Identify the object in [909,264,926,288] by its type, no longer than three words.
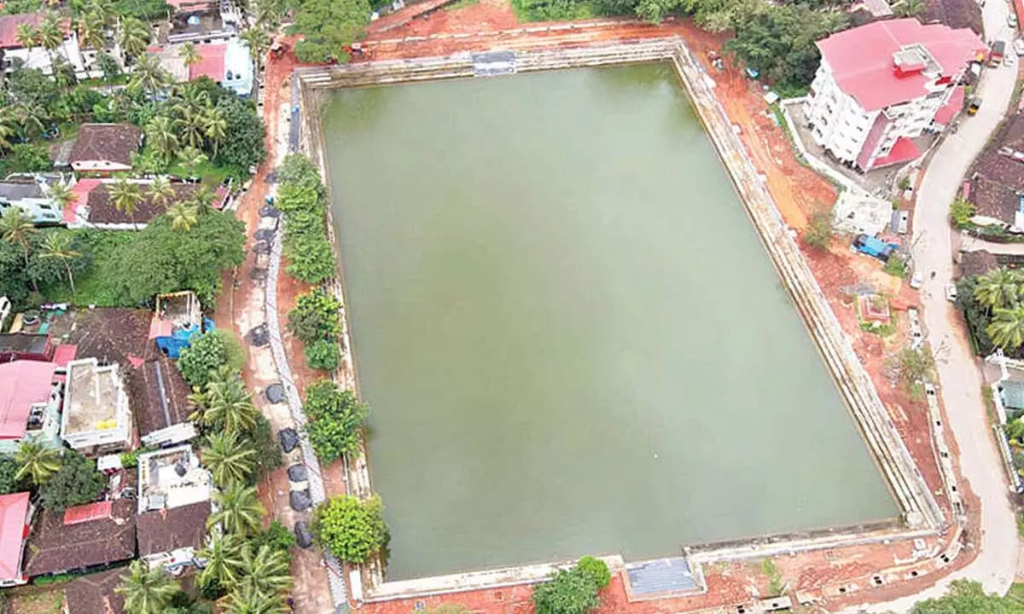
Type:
car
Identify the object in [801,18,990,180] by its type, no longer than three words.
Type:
building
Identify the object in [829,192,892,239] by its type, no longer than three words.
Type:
building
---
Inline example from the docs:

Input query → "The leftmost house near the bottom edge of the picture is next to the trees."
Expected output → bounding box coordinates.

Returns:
[0,493,44,591]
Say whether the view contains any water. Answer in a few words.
Yes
